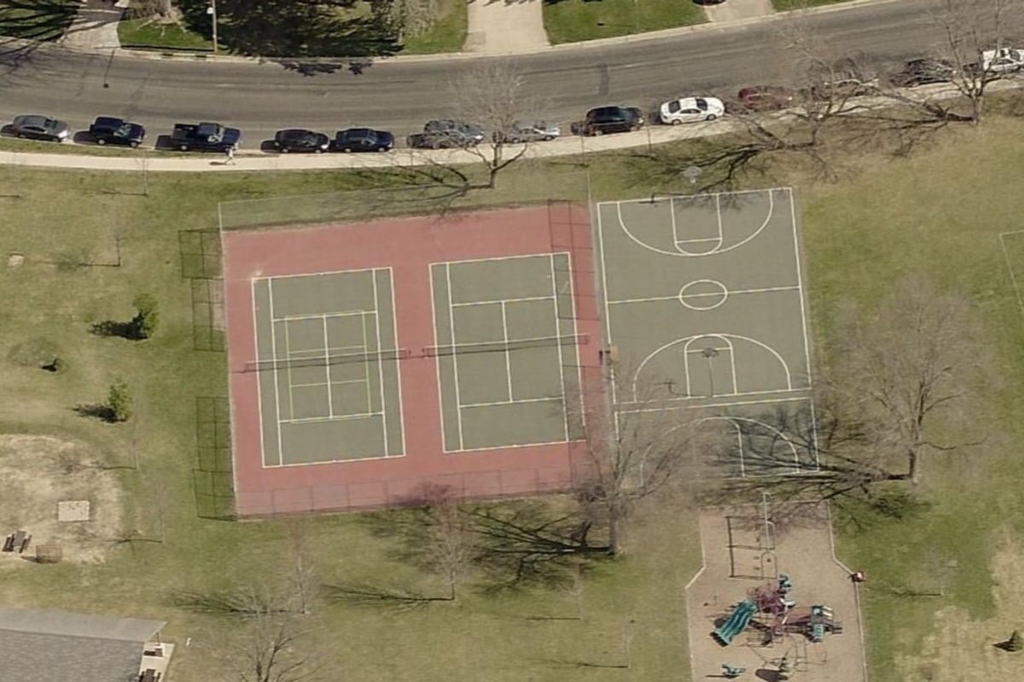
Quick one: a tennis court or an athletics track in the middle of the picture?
tennis court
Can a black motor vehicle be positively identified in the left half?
Yes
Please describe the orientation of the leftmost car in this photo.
from left to right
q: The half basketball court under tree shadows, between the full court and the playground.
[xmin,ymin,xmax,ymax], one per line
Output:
[611,393,821,492]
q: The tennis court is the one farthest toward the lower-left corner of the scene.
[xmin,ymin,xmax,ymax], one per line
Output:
[223,217,424,516]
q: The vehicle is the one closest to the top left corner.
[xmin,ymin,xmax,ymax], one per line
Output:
[12,111,70,139]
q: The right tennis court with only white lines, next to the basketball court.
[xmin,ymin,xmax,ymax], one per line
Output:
[404,202,610,501]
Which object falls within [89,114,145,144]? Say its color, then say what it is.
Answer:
black car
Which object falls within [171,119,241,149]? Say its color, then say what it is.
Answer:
black truck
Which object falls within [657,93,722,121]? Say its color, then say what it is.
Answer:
white car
